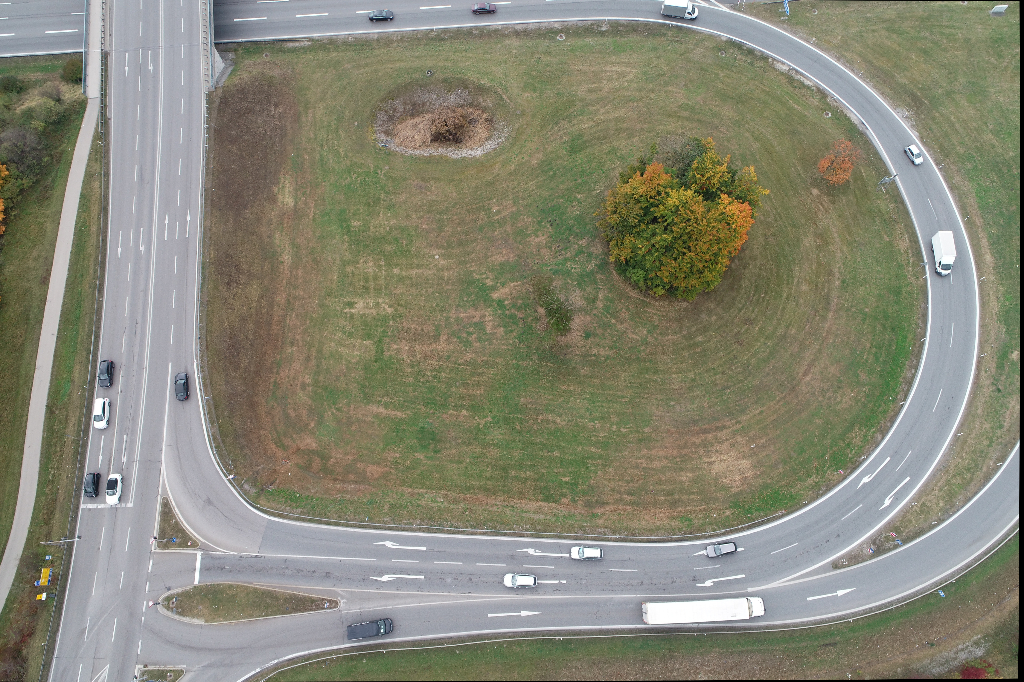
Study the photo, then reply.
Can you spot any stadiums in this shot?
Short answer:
No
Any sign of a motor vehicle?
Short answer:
Yes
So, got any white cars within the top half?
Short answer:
Yes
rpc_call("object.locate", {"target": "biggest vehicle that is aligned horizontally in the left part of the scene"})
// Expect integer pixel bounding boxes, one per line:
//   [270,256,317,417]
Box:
[346,617,392,641]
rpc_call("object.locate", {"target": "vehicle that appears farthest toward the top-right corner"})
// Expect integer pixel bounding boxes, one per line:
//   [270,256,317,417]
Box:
[903,145,923,165]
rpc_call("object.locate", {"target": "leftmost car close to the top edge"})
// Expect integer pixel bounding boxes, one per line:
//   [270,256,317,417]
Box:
[369,9,394,22]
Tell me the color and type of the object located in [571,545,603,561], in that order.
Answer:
white car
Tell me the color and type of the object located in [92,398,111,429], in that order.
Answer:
white car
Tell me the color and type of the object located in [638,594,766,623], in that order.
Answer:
white truck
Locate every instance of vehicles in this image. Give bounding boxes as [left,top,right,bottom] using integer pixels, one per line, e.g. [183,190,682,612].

[174,373,190,401]
[369,9,394,22]
[705,541,739,559]
[346,617,392,641]
[638,594,766,623]
[663,0,699,19]
[97,360,115,388]
[903,145,923,165]
[92,398,111,429]
[571,545,603,561]
[472,2,496,15]
[104,474,123,506]
[83,472,101,499]
[931,231,956,274]
[504,572,537,589]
